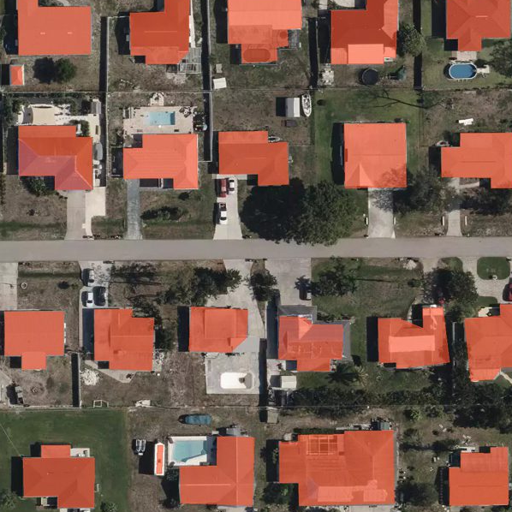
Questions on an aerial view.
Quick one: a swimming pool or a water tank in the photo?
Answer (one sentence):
This aerial view contains a swimming pool.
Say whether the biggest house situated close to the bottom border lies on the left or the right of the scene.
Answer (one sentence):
It is on the right.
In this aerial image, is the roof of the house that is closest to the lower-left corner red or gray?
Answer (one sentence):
The roof of the house that is closest to the lower-left corner looks red in the image.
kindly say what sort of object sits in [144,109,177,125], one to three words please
swimming pool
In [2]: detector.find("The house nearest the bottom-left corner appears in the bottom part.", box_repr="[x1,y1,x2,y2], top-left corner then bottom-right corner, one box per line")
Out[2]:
[23,445,94,508]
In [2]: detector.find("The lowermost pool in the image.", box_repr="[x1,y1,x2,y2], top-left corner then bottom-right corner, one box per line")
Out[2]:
[172,439,209,463]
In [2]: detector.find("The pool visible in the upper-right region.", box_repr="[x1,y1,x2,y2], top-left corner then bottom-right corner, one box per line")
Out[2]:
[450,62,477,79]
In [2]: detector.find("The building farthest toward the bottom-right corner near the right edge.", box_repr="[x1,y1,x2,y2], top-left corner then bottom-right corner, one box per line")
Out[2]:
[451,447,510,505]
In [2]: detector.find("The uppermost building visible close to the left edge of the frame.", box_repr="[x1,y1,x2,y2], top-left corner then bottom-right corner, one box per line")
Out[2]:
[17,0,91,54]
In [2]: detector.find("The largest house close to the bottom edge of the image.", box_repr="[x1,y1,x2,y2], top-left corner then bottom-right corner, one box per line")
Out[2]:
[280,431,396,506]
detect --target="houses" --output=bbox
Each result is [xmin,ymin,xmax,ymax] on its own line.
[23,445,94,508]
[228,0,303,63]
[94,308,155,370]
[332,0,400,63]
[190,307,248,351]
[19,125,93,190]
[345,122,408,187]
[451,447,510,505]
[278,305,351,370]
[17,0,91,54]
[131,0,202,73]
[219,131,289,185]
[280,431,396,506]
[448,0,512,49]
[181,437,255,506]
[4,310,64,368]
[466,303,512,381]
[442,132,512,188]
[123,133,198,188]
[379,307,451,367]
